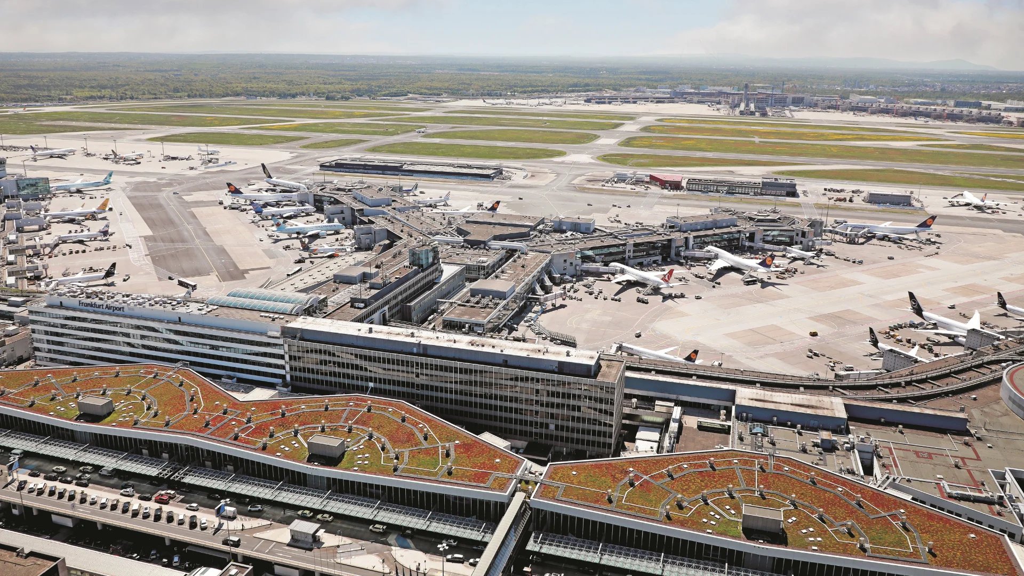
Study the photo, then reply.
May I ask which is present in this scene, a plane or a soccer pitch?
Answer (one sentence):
Looking from above, you can make out a plane.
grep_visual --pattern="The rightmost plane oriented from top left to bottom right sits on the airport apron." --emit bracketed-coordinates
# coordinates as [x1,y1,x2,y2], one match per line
[993,292,1024,321]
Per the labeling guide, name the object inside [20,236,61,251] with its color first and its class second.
gray jet bridge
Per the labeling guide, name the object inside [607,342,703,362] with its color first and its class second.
white airplane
